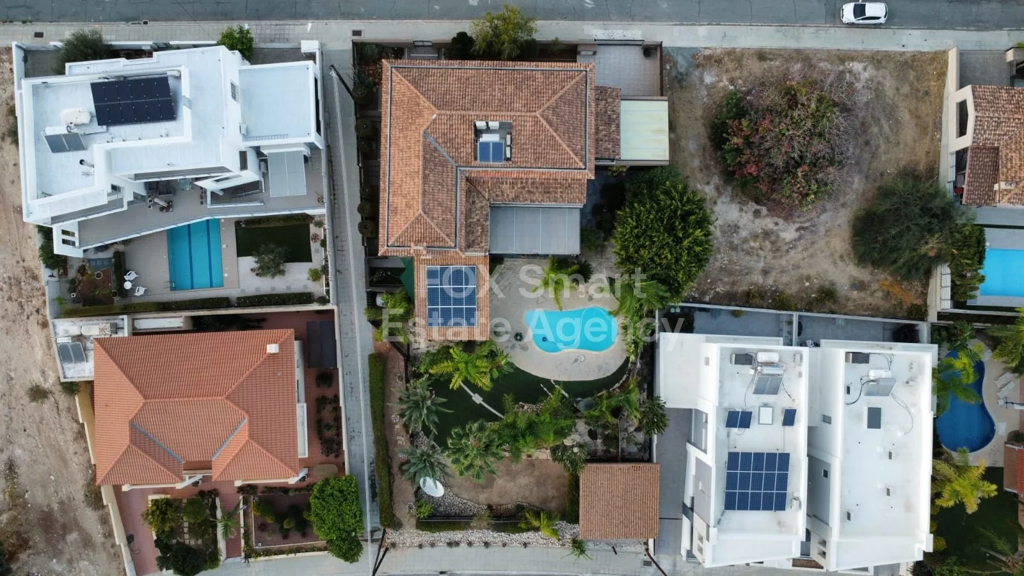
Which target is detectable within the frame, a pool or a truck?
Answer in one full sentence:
Visible in the photo is a pool.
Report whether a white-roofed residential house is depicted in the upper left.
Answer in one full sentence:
Yes, a white-roofed residential house is visible in the upper left.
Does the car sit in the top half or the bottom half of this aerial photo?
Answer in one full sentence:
Seen from above, the car lies in the top half of the view.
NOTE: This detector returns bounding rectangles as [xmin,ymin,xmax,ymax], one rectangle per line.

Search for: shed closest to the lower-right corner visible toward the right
[985,438,1024,493]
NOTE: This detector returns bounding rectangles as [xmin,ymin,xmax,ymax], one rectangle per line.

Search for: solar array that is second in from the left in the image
[427,266,477,327]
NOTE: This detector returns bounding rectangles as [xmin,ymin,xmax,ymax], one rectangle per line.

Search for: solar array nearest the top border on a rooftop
[90,77,176,126]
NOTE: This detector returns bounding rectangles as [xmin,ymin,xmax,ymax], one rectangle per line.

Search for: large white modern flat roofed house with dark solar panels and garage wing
[19,46,322,257]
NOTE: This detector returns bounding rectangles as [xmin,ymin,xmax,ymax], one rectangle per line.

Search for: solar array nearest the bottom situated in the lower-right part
[724,452,789,511]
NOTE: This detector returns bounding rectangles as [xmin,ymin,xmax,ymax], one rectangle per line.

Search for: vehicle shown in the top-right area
[844,0,892,25]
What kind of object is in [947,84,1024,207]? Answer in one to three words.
house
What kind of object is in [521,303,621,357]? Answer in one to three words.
swimming pool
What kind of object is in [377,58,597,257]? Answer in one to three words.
house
